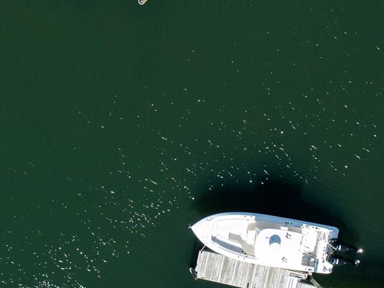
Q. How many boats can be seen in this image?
one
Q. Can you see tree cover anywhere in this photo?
No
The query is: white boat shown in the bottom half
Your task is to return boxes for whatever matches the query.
[188,212,360,273]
